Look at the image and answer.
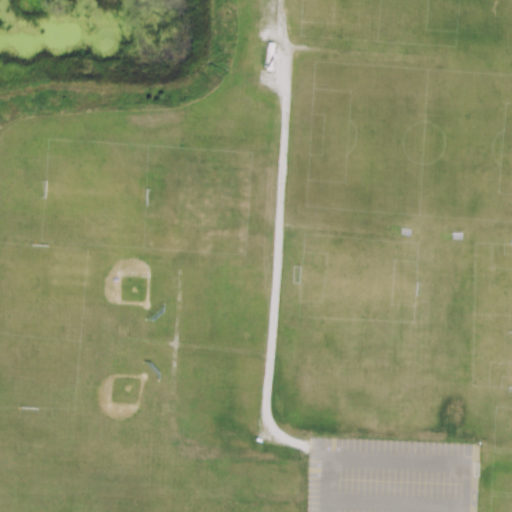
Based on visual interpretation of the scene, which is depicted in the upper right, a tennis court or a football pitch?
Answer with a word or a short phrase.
football pitch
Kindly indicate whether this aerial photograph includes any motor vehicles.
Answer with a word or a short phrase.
No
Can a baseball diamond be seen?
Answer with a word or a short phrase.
Yes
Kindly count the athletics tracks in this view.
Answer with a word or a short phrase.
0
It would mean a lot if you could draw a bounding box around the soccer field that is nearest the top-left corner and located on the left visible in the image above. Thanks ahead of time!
[42,138,148,250]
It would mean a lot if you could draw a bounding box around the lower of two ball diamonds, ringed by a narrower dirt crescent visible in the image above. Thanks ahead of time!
[98,373,148,420]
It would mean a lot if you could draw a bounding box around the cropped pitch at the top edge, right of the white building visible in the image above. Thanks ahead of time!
[301,0,460,48]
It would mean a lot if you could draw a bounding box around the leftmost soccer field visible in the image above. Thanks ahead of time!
[0,243,88,411]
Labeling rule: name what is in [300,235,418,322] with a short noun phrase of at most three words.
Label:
soccer field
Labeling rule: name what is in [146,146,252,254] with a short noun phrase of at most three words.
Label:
soccer field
